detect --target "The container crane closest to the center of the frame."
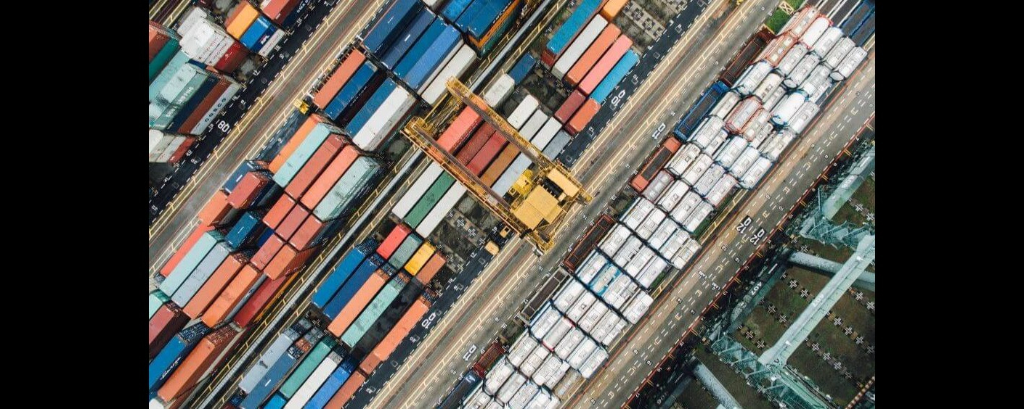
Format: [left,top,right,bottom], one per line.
[407,71,597,248]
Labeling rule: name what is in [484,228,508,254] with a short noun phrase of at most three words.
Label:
truck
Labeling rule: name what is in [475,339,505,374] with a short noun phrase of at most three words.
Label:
shipping container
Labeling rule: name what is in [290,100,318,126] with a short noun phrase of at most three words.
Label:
truck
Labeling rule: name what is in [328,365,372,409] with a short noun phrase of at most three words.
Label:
shipping container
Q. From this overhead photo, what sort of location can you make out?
industrial area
